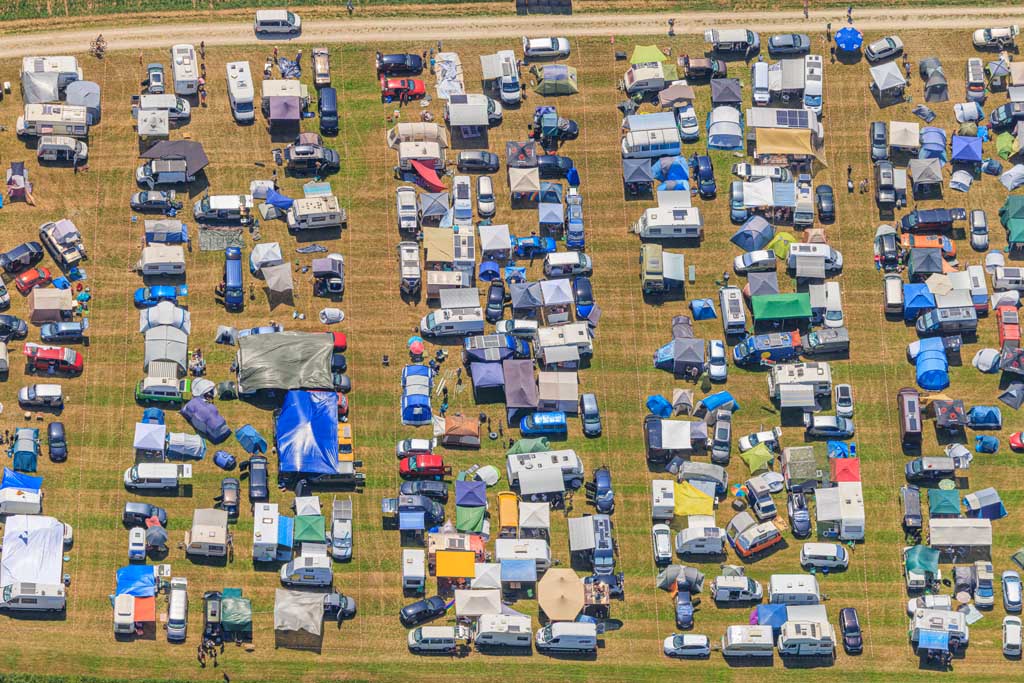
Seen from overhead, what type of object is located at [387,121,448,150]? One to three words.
tent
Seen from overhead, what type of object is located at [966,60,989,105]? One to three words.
vehicle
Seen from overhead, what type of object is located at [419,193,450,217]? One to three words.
gazebo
